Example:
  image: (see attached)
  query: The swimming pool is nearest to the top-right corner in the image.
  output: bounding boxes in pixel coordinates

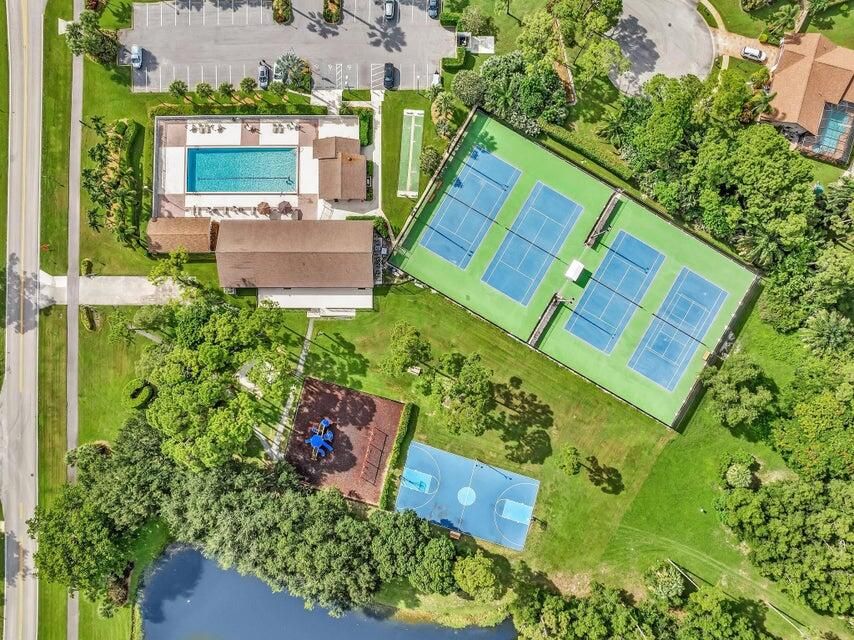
[817,106,850,150]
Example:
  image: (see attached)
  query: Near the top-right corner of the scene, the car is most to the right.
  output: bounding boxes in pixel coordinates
[741,45,766,62]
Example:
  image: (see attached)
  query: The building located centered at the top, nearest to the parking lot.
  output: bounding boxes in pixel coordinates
[313,137,366,199]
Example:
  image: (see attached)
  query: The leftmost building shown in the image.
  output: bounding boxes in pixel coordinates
[146,218,213,252]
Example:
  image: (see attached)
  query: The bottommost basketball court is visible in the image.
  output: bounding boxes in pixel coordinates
[394,444,540,547]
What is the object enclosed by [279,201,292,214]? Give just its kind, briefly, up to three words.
umbrella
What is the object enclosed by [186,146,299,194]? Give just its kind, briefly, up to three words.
swimming pool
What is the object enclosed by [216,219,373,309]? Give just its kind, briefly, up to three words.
building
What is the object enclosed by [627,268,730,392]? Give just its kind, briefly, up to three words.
tennis court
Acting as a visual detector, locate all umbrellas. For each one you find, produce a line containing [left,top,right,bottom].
[294,209,305,219]
[279,201,292,214]
[258,202,271,215]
